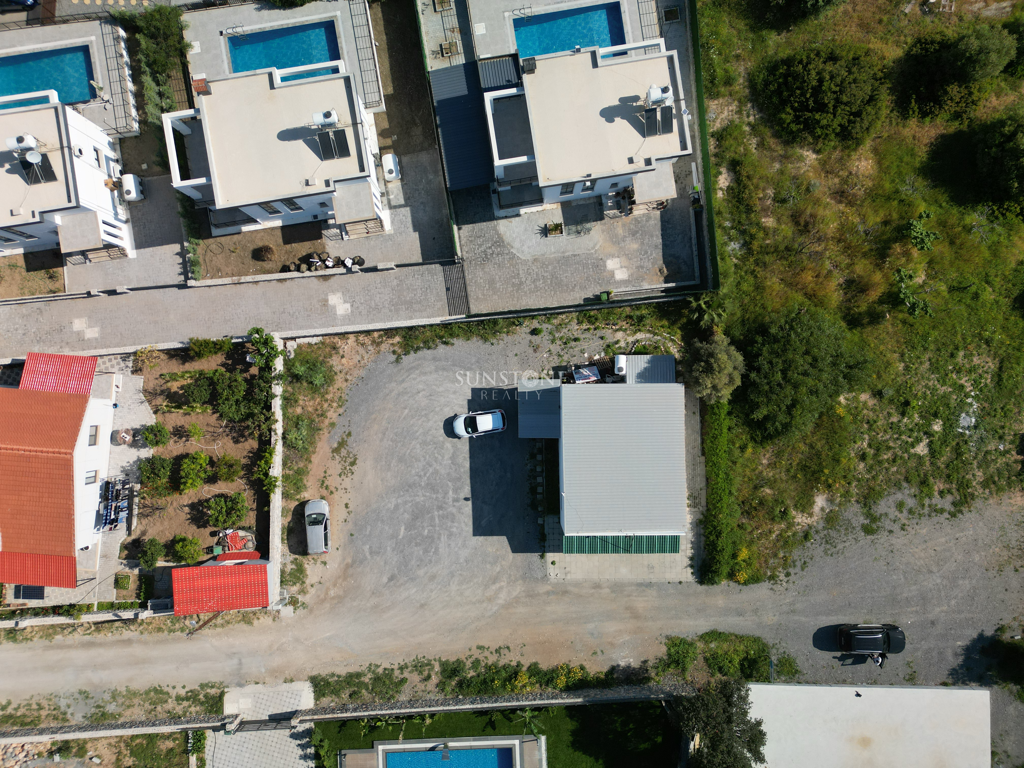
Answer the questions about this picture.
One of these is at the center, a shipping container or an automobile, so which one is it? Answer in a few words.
automobile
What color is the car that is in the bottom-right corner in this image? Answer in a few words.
black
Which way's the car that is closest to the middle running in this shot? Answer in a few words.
horizontally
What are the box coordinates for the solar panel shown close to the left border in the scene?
[21,584,48,599]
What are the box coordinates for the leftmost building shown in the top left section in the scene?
[0,89,141,268]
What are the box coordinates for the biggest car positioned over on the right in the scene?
[835,624,904,670]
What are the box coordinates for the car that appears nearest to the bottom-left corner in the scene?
[304,499,332,555]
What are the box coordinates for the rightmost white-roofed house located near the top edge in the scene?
[482,37,692,222]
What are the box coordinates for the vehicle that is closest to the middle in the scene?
[454,410,507,438]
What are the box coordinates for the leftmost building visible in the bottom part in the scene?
[0,352,117,588]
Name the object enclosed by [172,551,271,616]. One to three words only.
shed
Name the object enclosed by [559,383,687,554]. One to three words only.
building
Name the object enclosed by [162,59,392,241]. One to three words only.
house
